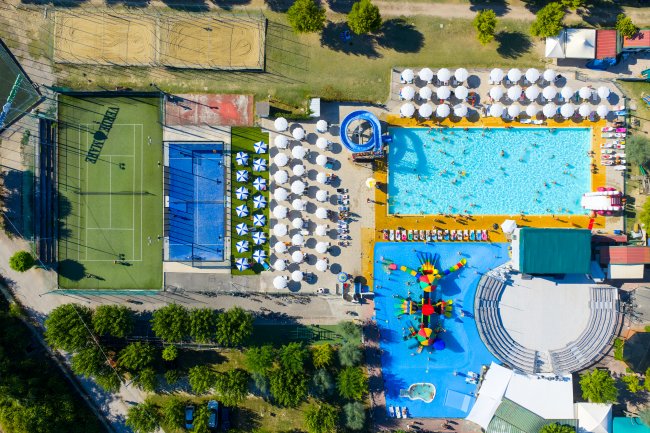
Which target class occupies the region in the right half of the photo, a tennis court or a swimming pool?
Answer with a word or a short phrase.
swimming pool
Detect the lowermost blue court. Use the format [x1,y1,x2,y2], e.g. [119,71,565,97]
[161,139,225,264]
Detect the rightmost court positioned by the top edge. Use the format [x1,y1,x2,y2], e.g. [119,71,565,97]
[162,12,262,66]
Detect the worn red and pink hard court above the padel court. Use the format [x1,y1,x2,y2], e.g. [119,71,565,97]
[164,95,253,124]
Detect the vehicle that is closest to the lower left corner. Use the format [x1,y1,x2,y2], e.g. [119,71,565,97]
[183,404,196,429]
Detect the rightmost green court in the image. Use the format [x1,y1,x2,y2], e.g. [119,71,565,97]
[58,93,163,291]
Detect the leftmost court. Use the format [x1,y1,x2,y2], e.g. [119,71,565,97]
[0,39,42,132]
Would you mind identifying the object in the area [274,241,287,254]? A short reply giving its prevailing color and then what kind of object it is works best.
white umbrella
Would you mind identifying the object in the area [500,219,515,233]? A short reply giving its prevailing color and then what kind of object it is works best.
white umbrella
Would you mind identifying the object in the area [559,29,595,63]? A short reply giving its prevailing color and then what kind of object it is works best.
white tent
